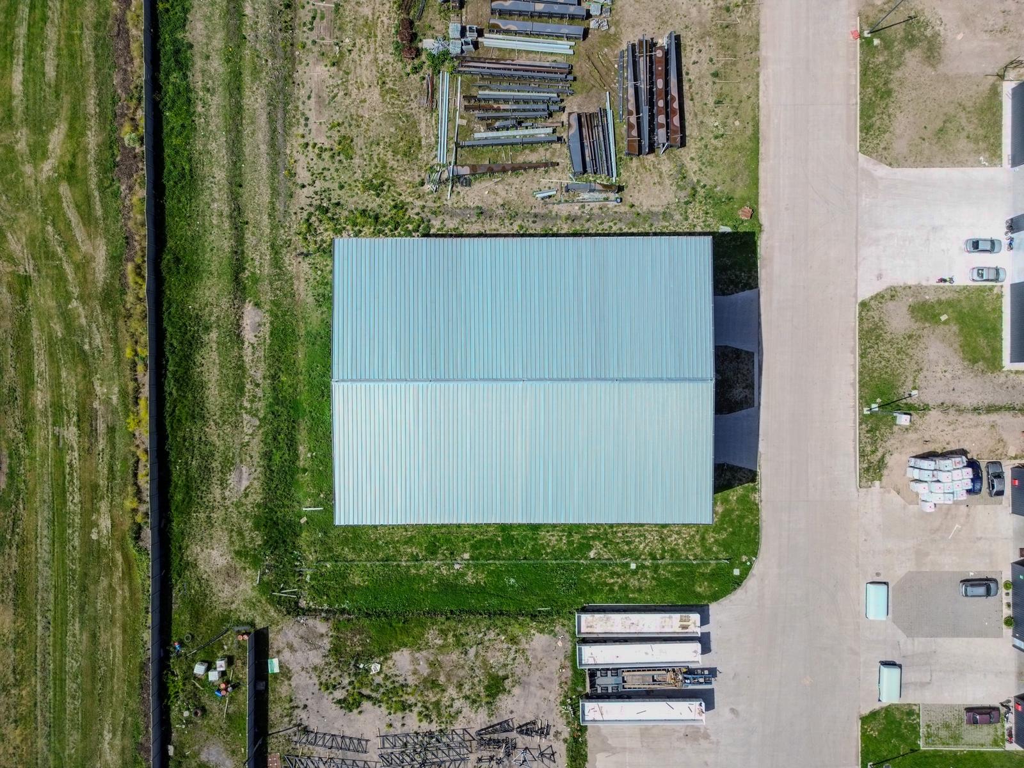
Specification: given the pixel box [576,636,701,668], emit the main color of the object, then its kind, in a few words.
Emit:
white trailer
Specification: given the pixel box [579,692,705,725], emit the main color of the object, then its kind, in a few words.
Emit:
white trailer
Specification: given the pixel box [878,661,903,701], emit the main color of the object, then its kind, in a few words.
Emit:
white vehicle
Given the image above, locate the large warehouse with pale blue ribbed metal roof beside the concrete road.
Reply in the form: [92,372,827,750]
[330,236,716,526]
